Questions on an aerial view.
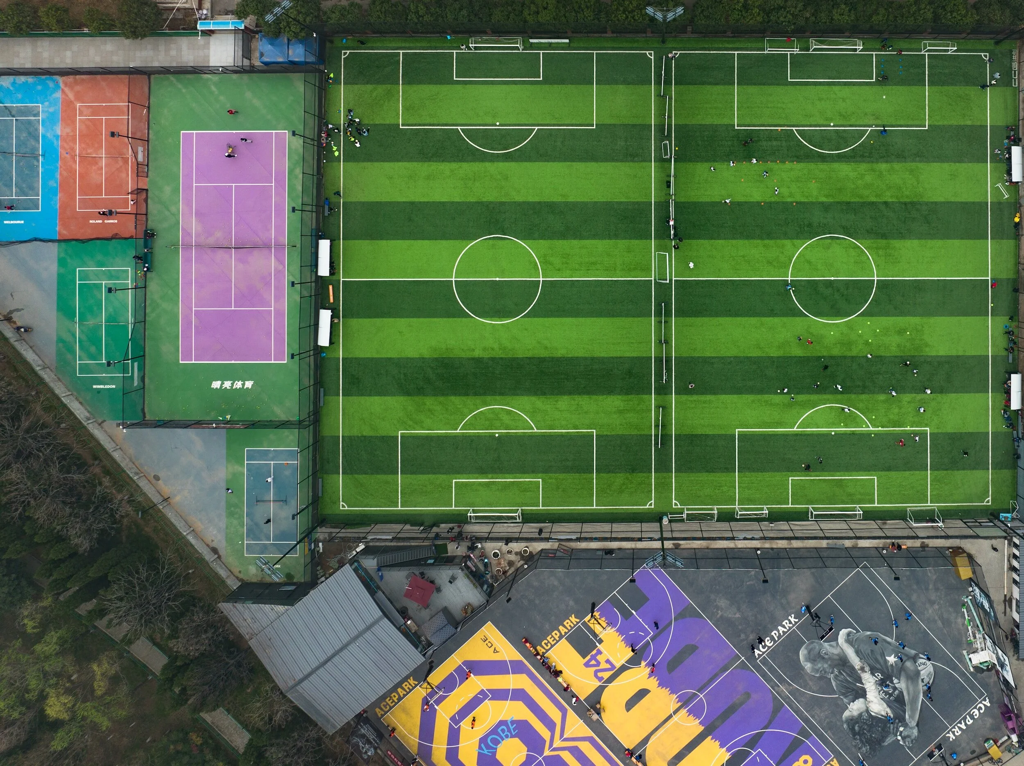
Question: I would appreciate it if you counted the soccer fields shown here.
2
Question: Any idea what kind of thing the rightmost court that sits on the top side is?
tennis court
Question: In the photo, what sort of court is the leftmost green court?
tennis court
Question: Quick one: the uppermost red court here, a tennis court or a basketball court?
tennis court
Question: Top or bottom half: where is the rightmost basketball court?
bottom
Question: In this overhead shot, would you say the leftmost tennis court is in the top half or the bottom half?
top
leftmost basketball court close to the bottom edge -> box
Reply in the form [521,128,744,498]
[378,622,620,766]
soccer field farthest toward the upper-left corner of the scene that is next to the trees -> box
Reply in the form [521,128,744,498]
[319,37,663,523]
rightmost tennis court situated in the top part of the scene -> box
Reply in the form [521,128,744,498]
[145,74,316,420]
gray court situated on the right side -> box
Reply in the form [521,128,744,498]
[756,563,987,766]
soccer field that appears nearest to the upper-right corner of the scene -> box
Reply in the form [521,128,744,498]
[663,38,1018,521]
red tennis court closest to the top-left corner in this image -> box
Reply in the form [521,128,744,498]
[58,75,150,239]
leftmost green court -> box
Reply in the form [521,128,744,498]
[56,240,147,421]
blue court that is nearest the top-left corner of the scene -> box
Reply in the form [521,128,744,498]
[0,76,61,240]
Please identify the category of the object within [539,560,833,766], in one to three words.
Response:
basketball court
